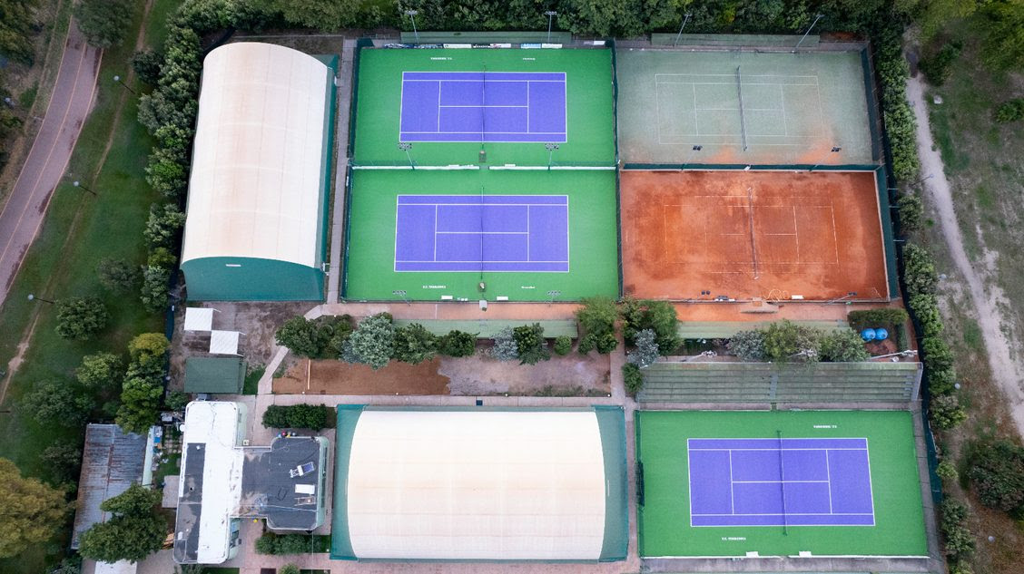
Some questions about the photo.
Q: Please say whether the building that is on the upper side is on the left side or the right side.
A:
left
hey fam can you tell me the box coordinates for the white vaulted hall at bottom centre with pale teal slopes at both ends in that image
[330,406,628,561]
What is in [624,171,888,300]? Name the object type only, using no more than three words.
tennis court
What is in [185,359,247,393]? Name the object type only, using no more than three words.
shed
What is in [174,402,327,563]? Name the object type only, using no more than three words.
building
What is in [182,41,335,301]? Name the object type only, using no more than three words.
building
